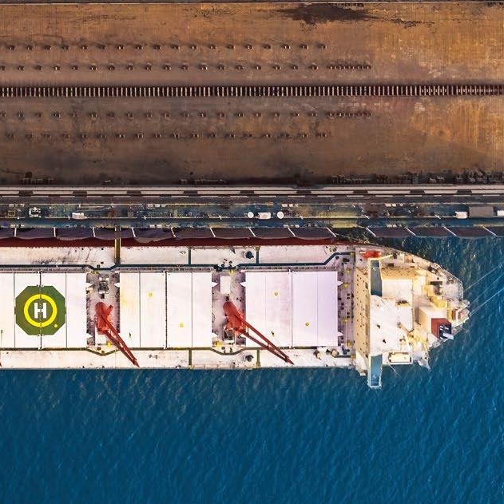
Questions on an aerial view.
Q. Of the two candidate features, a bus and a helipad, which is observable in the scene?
helipad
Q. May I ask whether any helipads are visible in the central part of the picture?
No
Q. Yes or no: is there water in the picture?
Yes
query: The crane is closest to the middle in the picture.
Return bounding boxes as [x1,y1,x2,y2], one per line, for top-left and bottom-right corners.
[220,299,295,365]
